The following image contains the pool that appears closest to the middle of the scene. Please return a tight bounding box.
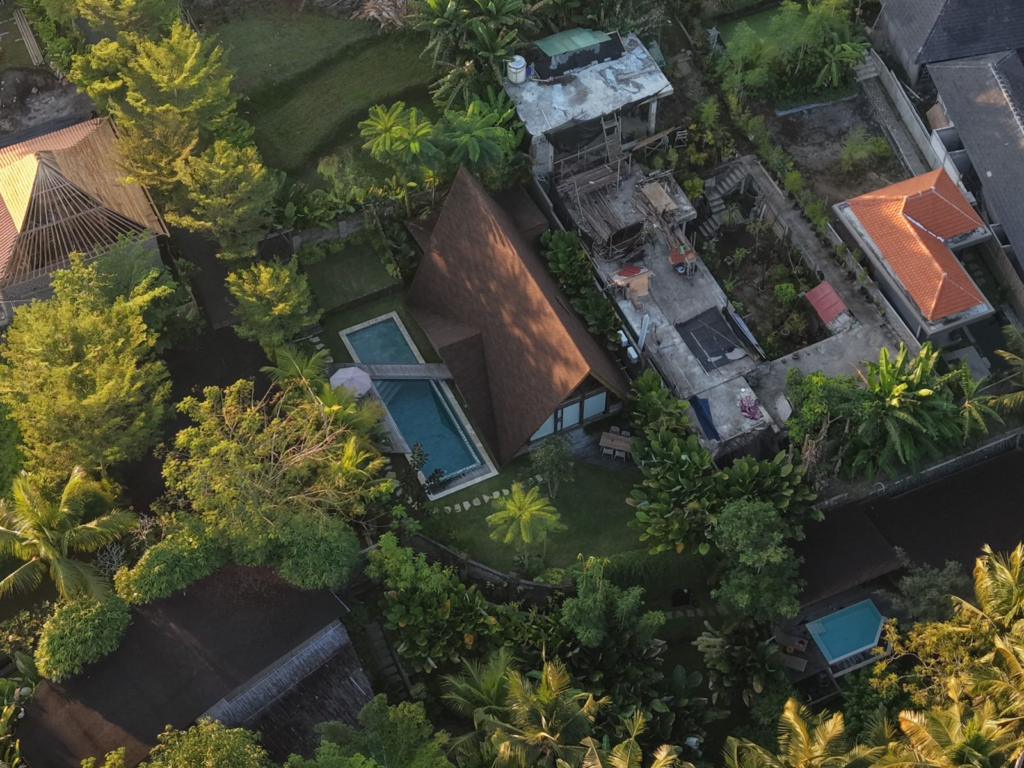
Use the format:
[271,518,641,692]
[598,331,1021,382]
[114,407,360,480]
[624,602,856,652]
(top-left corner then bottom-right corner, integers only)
[339,312,497,502]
